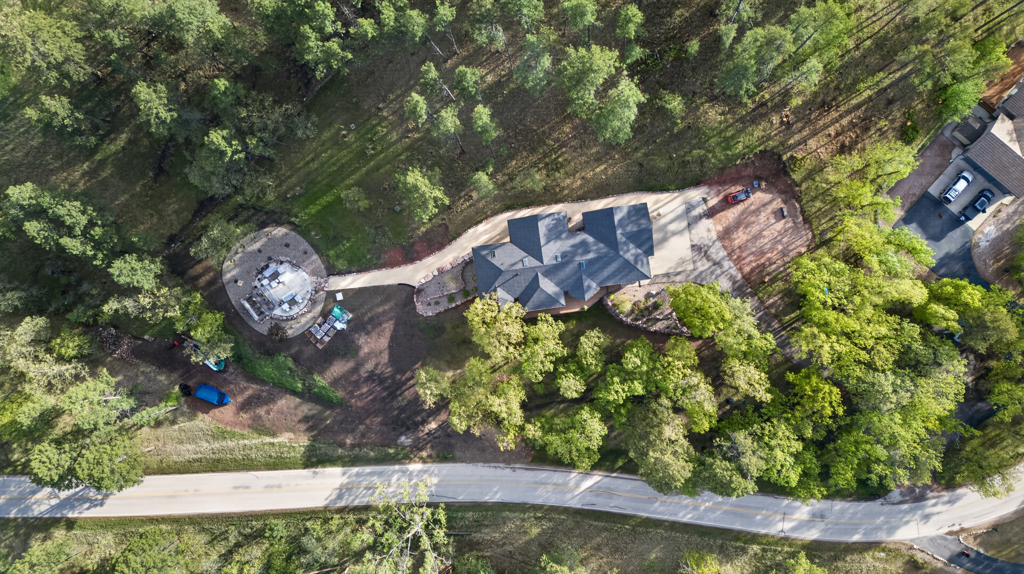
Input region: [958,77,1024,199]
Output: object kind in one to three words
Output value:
house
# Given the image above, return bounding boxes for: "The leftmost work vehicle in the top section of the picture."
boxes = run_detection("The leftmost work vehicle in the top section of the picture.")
[724,187,753,207]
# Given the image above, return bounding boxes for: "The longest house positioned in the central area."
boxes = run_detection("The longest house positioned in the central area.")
[471,202,654,318]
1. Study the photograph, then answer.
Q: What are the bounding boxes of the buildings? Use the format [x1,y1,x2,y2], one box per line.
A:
[471,202,654,318]
[949,116,986,146]
[958,77,1024,199]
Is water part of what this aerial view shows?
No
